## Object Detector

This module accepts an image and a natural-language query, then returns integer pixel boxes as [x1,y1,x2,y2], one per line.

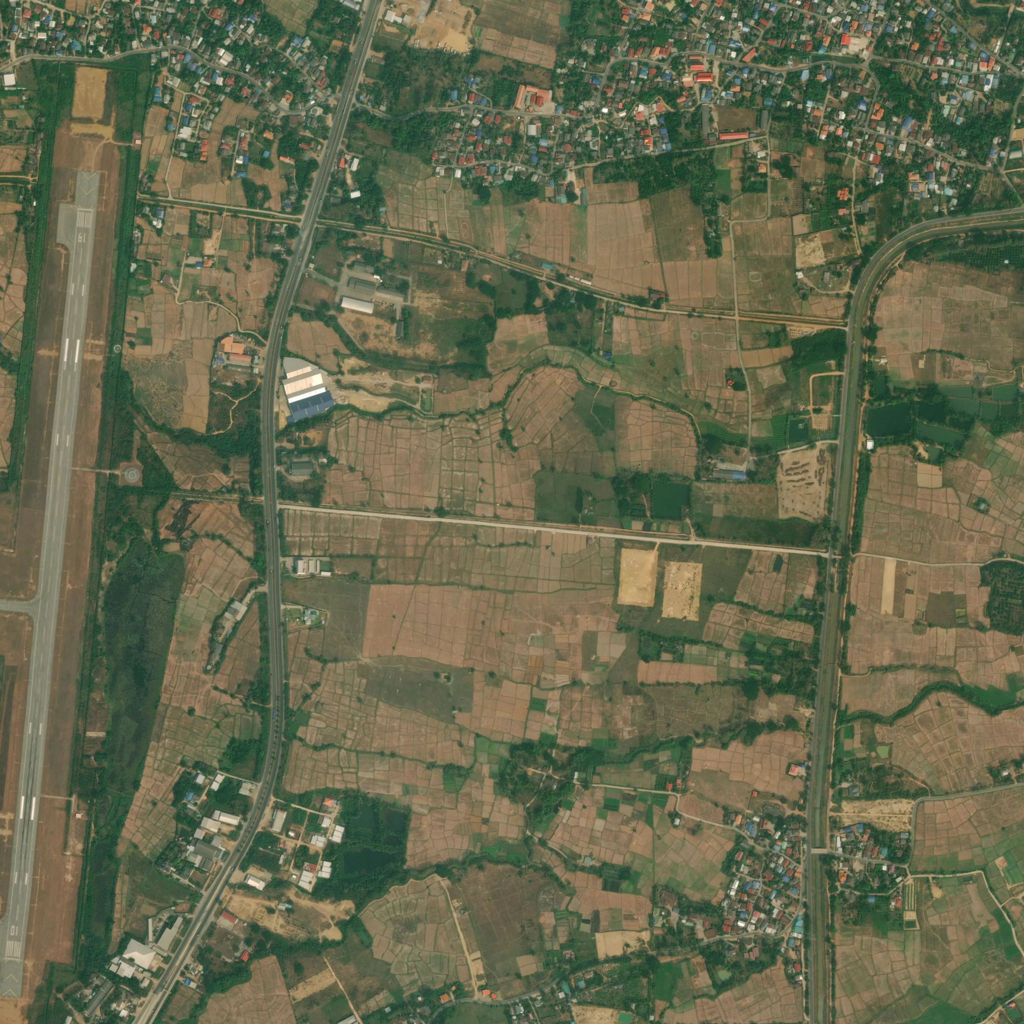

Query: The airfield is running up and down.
[0,171,100,997]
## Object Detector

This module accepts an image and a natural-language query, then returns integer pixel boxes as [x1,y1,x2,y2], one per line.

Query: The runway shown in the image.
[0,171,100,997]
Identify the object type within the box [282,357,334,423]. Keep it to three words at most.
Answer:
building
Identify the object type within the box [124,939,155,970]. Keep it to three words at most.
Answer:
building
